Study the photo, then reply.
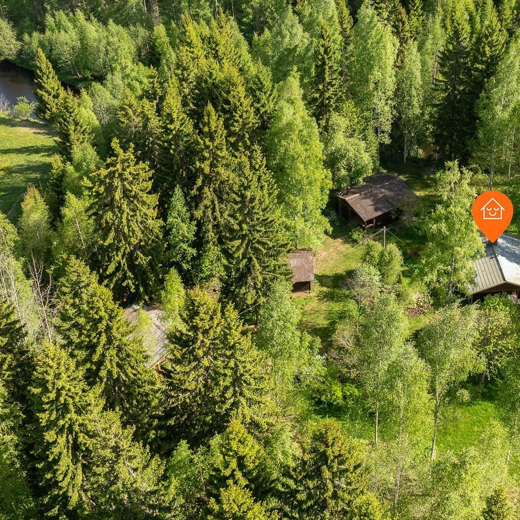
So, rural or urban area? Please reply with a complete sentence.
This place is rural.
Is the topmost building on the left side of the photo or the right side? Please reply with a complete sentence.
It is on the right.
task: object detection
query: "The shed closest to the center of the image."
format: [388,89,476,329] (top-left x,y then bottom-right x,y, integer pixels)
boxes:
[289,253,318,300]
